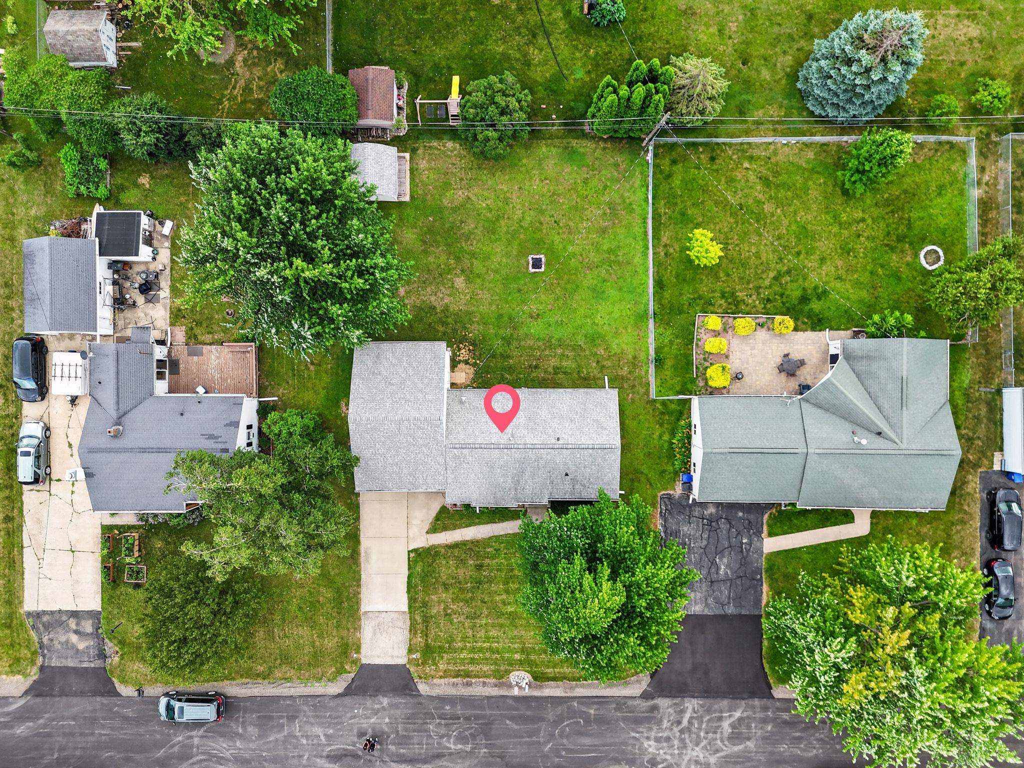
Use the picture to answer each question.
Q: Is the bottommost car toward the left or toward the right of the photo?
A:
left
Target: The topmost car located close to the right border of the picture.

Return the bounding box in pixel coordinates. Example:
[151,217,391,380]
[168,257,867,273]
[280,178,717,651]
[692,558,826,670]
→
[987,487,1024,551]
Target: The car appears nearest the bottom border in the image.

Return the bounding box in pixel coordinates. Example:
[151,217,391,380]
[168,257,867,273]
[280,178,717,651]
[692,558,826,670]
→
[158,692,223,725]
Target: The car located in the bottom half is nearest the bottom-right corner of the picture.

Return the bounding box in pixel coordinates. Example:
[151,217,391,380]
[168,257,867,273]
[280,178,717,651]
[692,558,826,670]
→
[985,560,1019,619]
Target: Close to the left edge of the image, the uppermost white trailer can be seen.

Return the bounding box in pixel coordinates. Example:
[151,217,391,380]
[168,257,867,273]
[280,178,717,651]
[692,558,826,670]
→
[51,351,88,411]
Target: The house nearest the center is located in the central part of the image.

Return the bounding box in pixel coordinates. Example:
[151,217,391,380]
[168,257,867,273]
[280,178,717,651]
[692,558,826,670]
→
[347,340,626,514]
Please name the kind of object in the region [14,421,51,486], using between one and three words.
car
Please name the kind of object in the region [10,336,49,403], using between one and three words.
car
